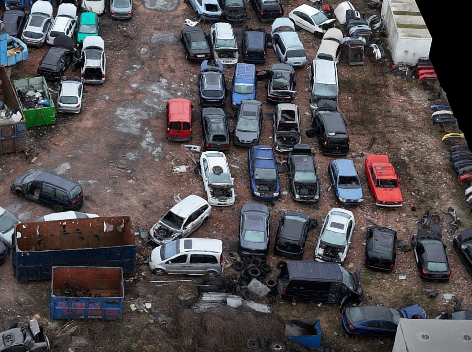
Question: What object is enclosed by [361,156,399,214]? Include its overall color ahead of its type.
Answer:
red car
